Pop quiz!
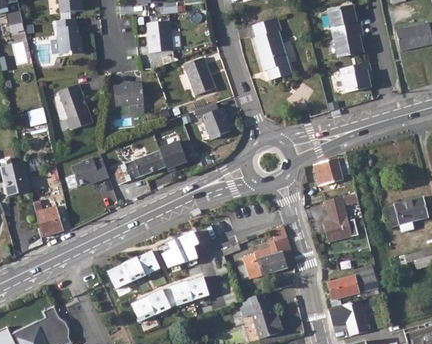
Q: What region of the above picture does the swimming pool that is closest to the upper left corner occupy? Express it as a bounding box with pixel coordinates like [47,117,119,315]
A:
[38,42,52,64]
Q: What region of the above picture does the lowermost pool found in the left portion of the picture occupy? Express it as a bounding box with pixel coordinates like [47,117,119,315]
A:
[114,116,134,128]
